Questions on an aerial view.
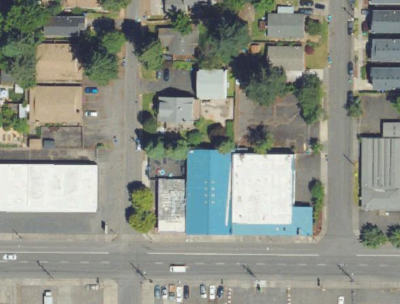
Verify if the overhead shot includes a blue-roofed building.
Yes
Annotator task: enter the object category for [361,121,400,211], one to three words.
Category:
building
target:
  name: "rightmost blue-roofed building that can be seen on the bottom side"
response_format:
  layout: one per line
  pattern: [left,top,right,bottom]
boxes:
[186,150,232,234]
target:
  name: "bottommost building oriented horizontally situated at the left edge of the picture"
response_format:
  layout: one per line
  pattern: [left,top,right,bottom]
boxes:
[0,164,99,212]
